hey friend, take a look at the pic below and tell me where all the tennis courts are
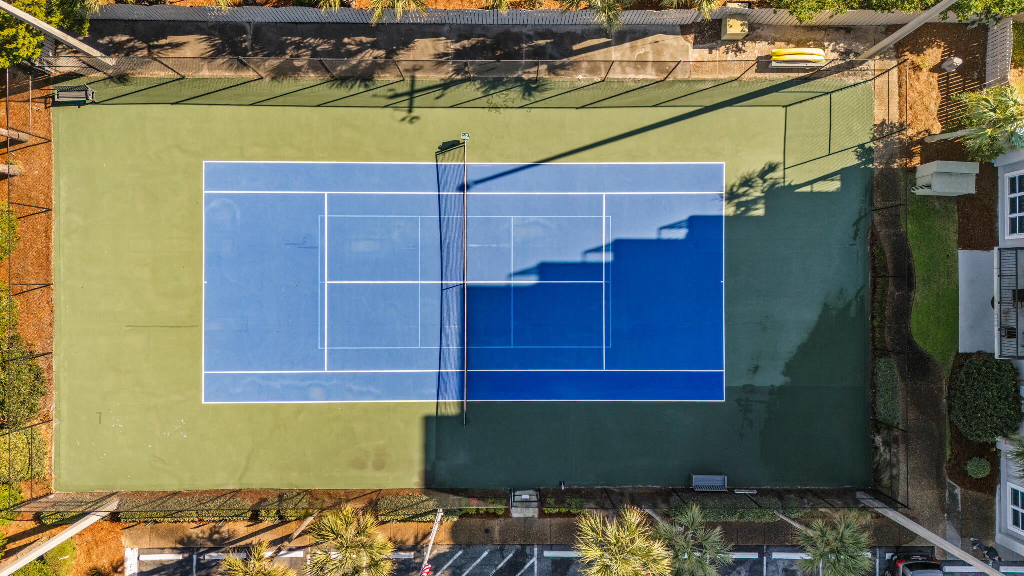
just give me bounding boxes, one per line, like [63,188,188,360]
[52,78,873,492]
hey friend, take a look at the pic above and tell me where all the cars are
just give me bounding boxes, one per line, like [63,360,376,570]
[888,550,940,576]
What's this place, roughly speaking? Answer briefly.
sports ground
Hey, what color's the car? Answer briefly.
black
